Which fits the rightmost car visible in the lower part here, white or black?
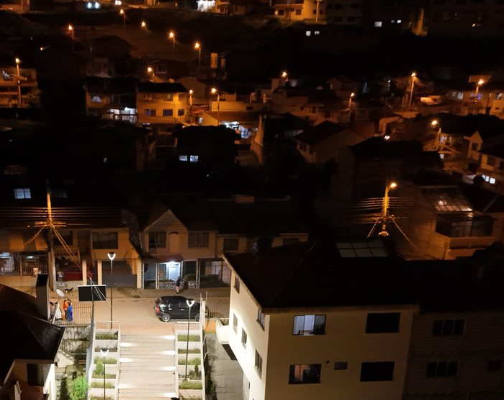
black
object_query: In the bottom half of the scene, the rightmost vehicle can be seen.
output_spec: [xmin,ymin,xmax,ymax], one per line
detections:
[153,295,200,318]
